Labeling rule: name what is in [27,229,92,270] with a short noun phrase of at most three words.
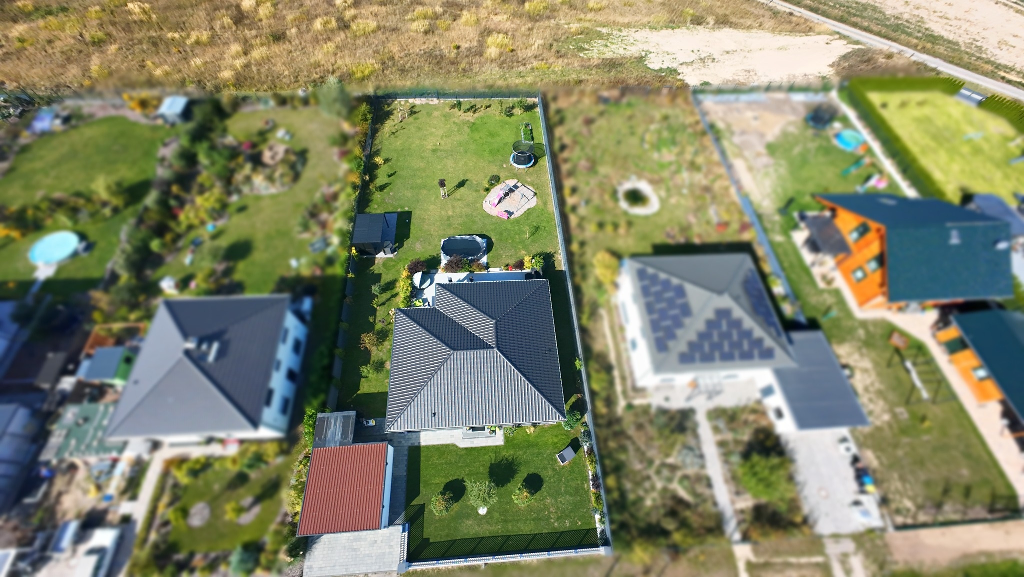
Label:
swimming pool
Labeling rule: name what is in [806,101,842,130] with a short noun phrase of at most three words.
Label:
trampoline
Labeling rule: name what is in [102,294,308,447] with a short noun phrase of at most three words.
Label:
house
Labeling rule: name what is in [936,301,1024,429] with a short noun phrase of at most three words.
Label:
building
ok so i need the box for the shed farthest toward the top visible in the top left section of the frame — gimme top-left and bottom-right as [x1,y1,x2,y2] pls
[156,95,191,128]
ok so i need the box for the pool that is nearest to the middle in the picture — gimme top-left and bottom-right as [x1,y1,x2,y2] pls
[441,234,486,263]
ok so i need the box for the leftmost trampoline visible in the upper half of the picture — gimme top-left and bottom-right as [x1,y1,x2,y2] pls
[508,140,536,173]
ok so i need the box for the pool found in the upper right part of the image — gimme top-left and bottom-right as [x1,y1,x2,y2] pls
[835,130,867,153]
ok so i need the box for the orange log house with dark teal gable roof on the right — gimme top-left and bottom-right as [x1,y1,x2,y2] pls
[812,196,1015,309]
